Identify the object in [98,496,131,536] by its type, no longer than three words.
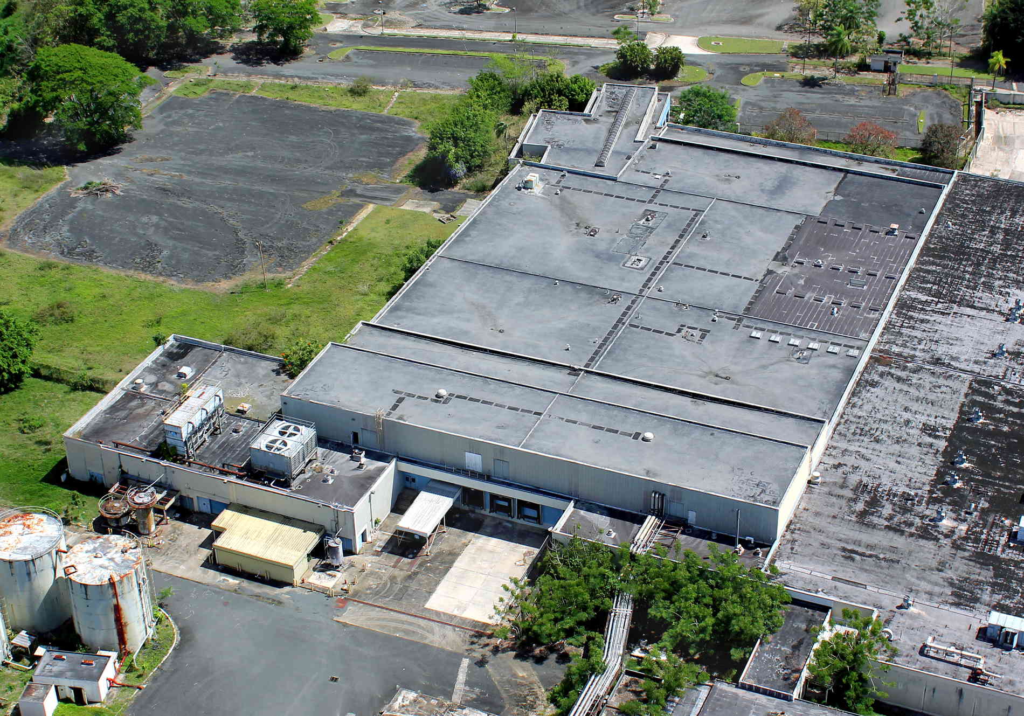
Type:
storage tank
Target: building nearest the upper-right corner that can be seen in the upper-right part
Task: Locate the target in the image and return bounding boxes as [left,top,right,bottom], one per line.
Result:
[867,45,908,73]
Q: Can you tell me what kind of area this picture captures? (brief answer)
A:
industrial area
